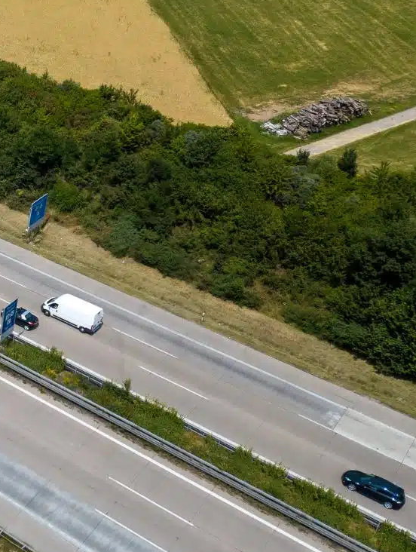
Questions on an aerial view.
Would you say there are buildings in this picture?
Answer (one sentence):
No, I can't see a single building in this photo.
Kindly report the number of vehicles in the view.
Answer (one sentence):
The count of vehicles comes to 3.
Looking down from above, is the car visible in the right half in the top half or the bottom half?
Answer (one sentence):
It is in the bottom half that the car visible in the right half appears.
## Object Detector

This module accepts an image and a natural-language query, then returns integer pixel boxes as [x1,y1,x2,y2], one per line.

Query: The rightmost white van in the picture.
[44,295,107,336]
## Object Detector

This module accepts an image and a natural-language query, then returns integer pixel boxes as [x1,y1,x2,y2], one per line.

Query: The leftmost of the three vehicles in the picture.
[13,305,45,330]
